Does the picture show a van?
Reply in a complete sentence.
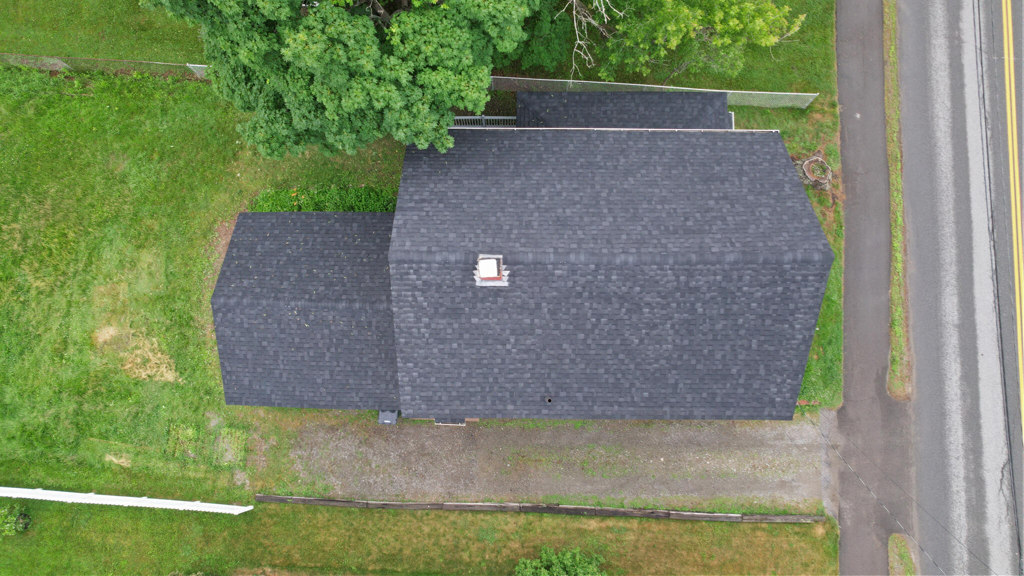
No, this view has no van in it.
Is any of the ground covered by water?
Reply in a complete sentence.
No, there is no water in the image.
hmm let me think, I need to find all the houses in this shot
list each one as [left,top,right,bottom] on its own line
[212,90,834,427]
